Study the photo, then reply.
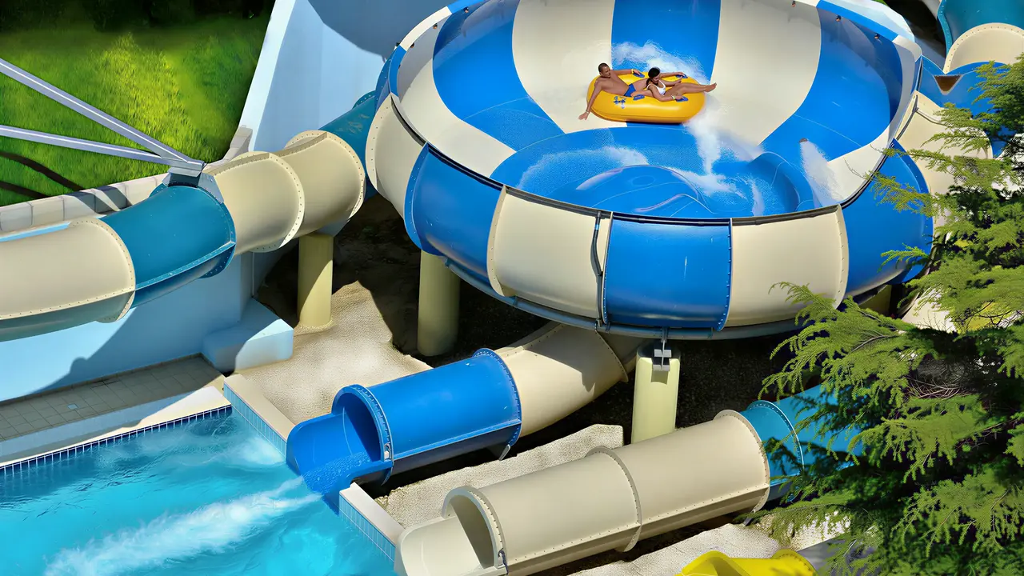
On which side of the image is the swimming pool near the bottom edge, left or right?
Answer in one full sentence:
The swimming pool near the bottom edge sits on the left side.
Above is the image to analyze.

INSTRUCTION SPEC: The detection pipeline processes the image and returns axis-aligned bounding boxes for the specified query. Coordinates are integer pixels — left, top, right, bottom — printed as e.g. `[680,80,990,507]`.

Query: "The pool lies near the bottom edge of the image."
[0,415,397,576]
